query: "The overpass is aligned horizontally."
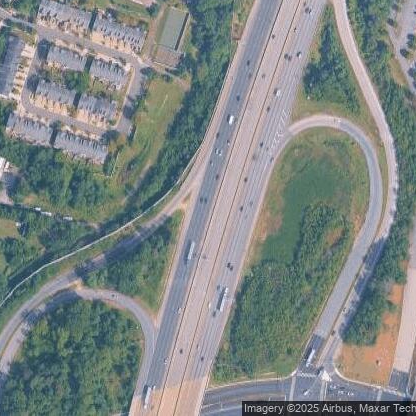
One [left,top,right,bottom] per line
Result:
[128,377,208,416]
